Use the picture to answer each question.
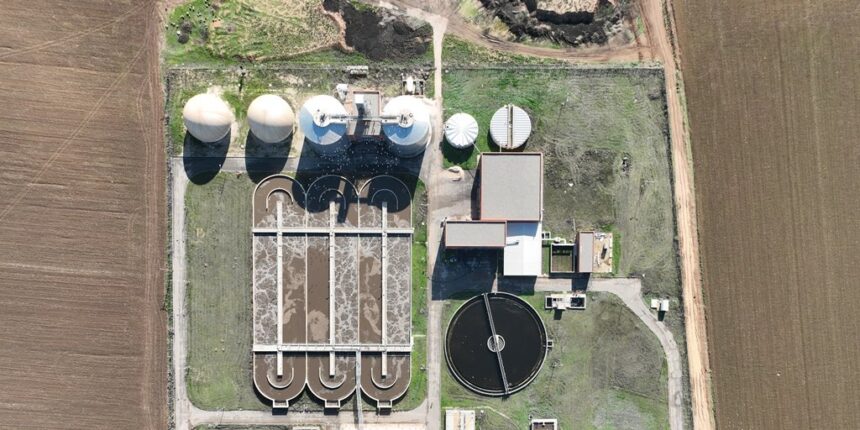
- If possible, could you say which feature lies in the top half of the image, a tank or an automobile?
tank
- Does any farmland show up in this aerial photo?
Yes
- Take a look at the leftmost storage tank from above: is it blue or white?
white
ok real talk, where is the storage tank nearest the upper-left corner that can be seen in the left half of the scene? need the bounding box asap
[181,92,241,144]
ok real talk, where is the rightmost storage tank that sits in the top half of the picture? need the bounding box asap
[489,104,531,149]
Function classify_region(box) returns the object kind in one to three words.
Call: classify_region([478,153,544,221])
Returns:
building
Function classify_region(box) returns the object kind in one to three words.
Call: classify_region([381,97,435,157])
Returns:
storage tank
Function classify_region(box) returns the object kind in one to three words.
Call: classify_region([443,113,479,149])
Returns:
storage tank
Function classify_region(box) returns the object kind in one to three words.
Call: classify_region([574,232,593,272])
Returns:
building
